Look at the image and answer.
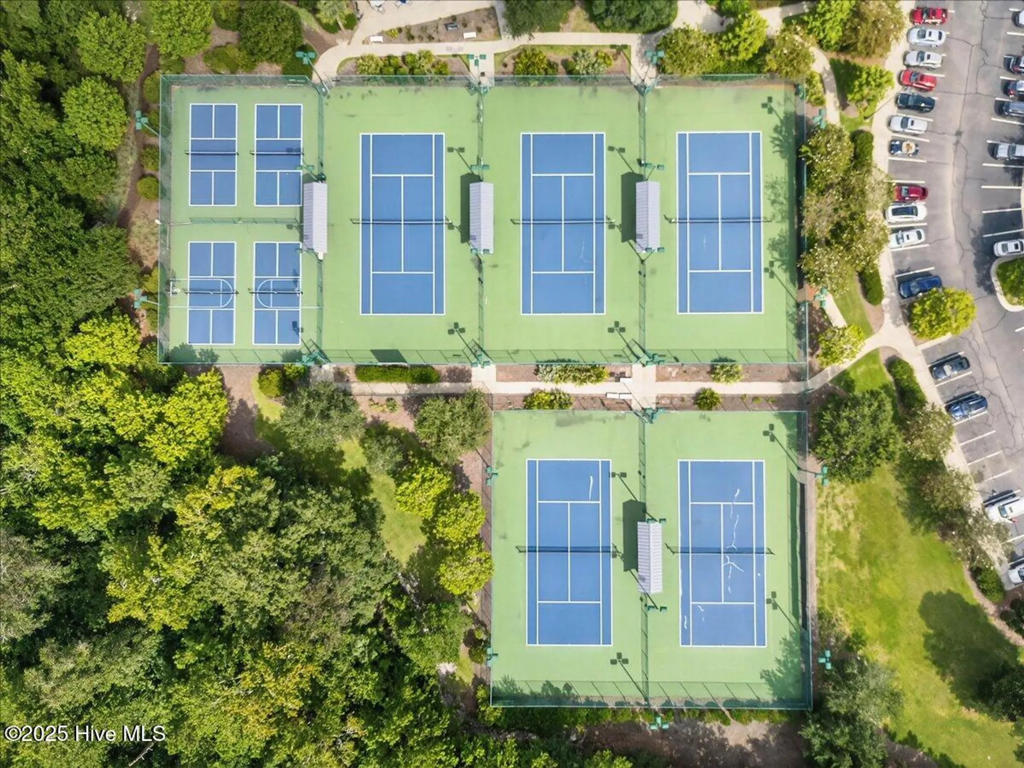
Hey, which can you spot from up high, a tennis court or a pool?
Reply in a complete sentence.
Visible in the photo is a tennis court.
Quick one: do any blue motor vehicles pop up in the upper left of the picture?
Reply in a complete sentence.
No, in the upper left of the picture there is no blue motor vehicle.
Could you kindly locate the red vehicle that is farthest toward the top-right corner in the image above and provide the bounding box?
[909,5,949,27]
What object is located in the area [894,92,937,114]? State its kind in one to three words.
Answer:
truck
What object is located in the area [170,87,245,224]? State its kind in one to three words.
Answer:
sports court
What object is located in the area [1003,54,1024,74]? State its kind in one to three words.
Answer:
car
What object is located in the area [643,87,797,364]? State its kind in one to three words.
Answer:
tennis court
